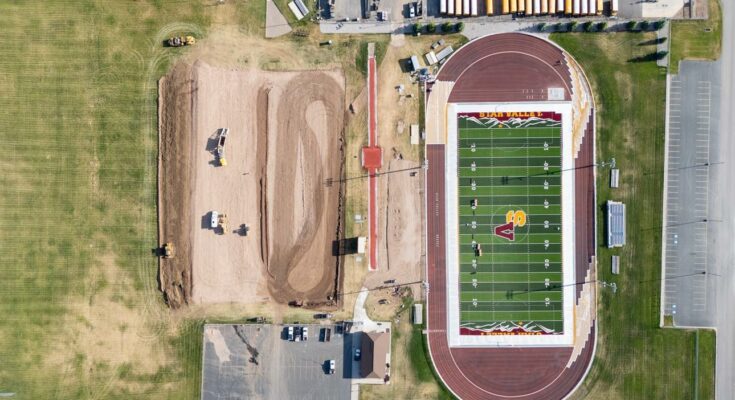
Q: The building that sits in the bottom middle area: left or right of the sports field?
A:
left of it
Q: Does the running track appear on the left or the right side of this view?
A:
right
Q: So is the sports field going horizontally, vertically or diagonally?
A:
vertically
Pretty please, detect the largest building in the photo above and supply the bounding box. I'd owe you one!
[360,333,388,380]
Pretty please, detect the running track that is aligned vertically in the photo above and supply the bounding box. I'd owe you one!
[422,31,597,400]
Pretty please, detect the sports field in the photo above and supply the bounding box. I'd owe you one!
[446,101,574,348]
